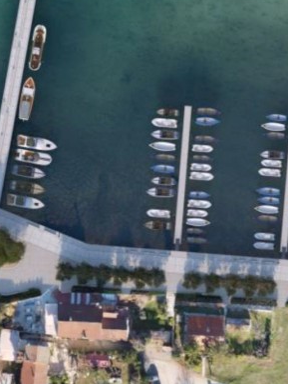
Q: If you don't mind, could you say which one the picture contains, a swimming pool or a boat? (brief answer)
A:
boat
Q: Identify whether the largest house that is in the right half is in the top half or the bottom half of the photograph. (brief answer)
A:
bottom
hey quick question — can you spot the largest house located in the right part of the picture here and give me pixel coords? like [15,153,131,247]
[188,314,225,343]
